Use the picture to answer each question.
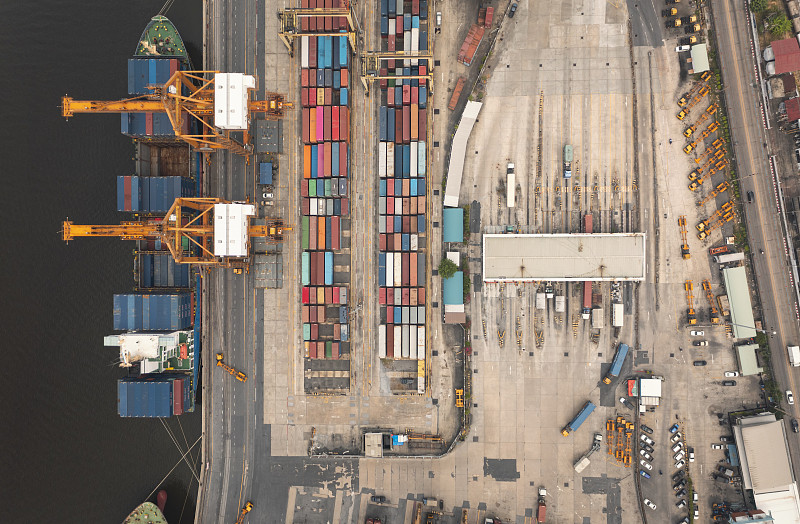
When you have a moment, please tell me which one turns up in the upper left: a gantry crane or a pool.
gantry crane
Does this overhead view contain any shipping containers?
Yes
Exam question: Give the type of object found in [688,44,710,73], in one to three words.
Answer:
shed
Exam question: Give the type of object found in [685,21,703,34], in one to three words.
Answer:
vehicle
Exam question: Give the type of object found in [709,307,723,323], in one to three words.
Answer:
vehicle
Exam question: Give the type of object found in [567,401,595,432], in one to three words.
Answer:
shipping container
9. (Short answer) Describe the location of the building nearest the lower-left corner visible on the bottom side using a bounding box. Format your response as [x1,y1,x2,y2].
[365,430,383,458]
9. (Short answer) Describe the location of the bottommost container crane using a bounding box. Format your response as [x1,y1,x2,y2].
[53,197,294,269]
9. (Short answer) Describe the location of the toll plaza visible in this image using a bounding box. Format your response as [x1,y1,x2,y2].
[483,233,646,283]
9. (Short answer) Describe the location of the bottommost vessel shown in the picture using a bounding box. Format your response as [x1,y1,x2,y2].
[129,490,169,524]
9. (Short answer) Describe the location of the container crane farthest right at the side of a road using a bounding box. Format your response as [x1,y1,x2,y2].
[356,50,435,99]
